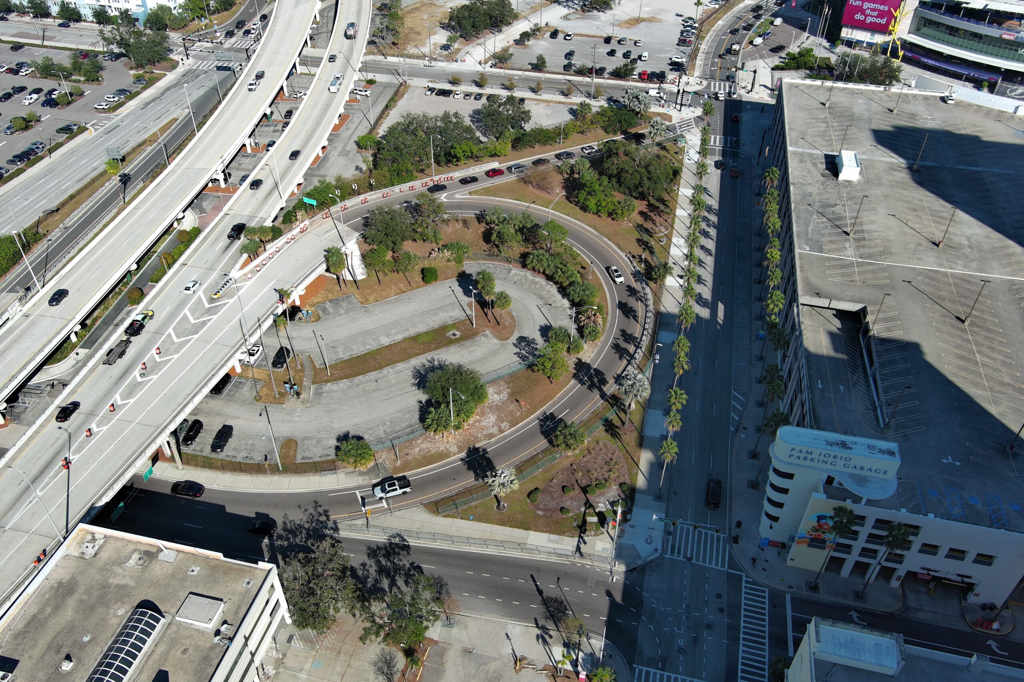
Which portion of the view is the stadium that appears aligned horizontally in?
top right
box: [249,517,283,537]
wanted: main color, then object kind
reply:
black car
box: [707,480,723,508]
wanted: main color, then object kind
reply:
black car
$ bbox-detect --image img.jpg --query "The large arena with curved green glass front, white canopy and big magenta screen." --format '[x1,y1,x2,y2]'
[822,0,1024,103]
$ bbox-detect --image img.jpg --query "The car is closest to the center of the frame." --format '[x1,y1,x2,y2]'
[610,266,624,283]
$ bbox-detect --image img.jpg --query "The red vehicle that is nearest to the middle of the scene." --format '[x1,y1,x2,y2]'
[485,166,505,179]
